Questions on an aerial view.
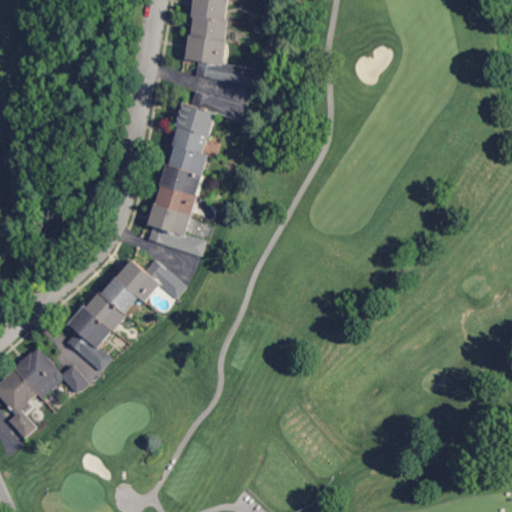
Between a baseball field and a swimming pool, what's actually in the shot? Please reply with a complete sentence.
The one in the frame is a swimming pool.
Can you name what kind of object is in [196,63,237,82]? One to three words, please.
building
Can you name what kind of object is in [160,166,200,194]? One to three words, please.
house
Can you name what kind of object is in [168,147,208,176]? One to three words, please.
house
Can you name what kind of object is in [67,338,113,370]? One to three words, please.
building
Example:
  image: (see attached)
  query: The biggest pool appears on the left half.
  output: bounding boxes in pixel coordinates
[150,286,175,314]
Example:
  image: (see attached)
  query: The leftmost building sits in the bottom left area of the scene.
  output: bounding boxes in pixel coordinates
[0,372,38,437]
